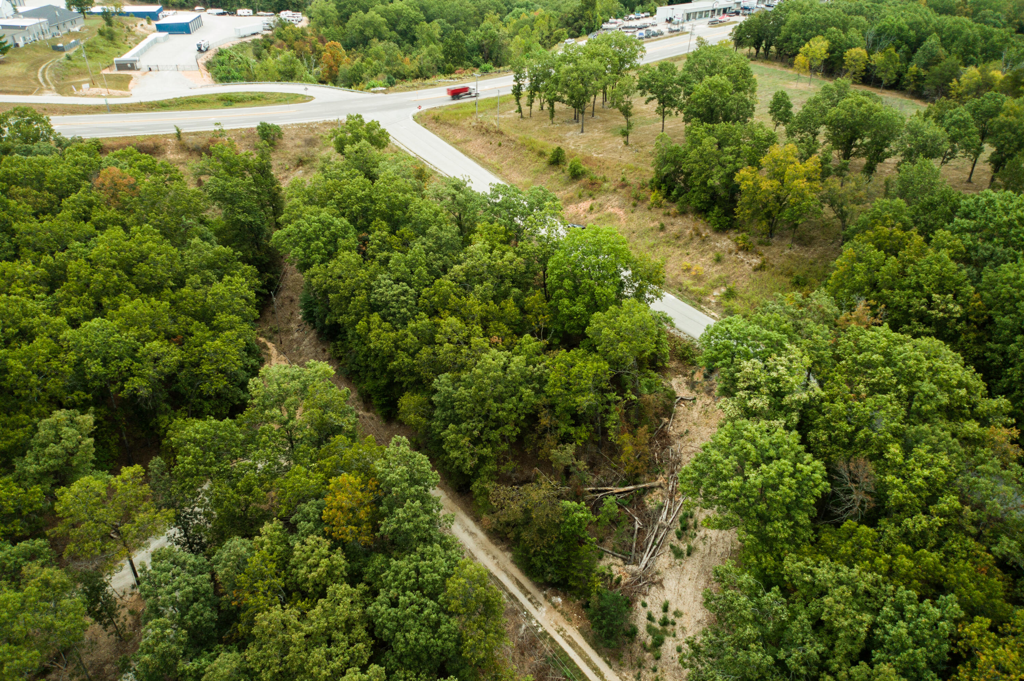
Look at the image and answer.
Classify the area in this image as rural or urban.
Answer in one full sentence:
The area shown here is rural.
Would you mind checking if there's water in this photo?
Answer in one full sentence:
No, there's no water in this view.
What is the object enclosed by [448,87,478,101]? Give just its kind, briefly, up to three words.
vehicle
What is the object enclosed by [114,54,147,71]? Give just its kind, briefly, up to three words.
shed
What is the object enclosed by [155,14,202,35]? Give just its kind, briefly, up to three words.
building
